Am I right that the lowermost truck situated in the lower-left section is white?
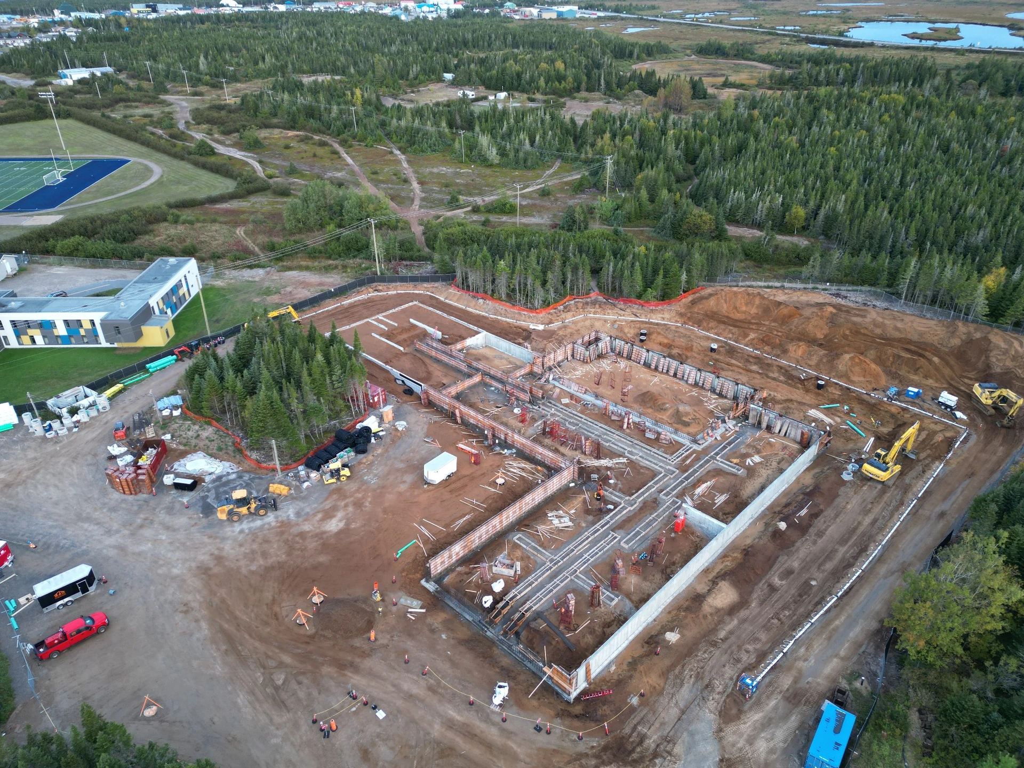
No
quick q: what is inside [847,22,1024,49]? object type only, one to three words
pond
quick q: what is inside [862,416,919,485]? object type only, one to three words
work vehicle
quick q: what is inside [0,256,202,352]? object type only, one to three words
building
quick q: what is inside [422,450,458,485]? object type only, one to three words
trailer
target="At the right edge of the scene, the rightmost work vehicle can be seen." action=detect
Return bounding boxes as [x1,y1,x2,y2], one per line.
[968,388,1024,432]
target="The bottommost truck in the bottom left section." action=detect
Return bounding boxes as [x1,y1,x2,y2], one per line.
[28,613,110,666]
